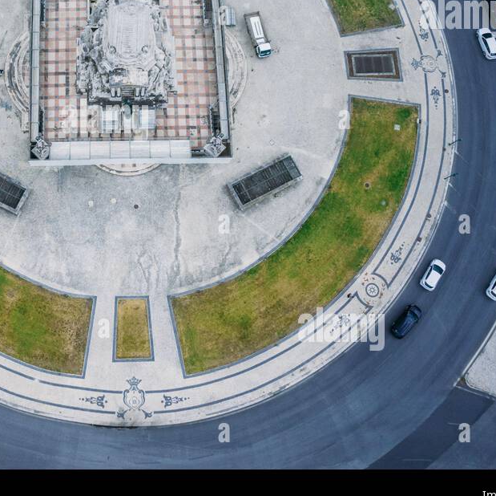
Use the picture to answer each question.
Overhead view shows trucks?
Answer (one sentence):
Yes, there's a truck down there.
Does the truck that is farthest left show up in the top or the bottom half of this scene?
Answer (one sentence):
The top half of the photo is where the truck that is farthest left is.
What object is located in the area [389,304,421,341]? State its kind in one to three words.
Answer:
car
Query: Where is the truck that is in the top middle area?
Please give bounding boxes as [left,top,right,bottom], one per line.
[244,12,276,58]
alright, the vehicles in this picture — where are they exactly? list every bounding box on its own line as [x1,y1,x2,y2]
[389,304,421,341]
[419,258,446,293]
[244,12,276,58]
[485,275,496,301]
[474,30,496,61]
